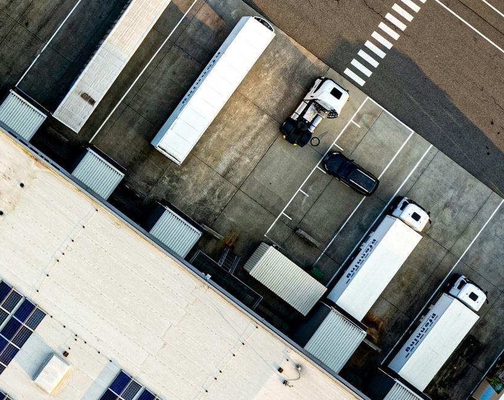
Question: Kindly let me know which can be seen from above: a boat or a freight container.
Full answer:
There is a freight container in the scene.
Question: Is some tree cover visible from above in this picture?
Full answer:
No, no tree cover is visible.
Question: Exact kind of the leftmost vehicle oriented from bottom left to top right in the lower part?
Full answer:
The leftmost vehicle oriented from bottom left to top right in the lower part is a truck.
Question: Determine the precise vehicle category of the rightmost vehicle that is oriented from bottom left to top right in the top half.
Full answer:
I'd identify the rightmost vehicle that is oriented from bottom left to top right in the top half as a truck.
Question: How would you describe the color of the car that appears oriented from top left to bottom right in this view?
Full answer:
From above, the car that appears oriented from top left to bottom right appears black.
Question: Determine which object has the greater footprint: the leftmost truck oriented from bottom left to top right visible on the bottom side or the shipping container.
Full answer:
It is the truck that is larger, not the shipping container.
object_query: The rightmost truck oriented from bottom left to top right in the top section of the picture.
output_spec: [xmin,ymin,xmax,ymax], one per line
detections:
[278,72,353,149]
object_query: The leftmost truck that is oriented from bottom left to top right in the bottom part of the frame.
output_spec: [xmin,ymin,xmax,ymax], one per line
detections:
[327,193,437,321]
